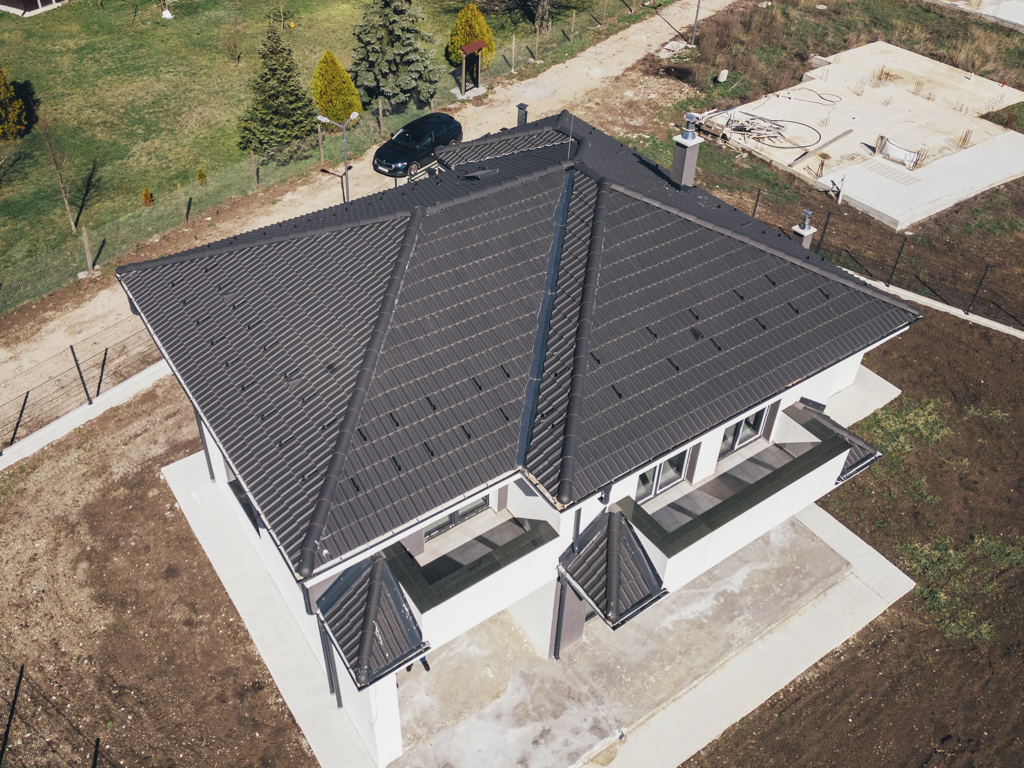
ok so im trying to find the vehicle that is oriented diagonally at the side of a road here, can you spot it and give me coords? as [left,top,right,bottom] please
[371,108,466,179]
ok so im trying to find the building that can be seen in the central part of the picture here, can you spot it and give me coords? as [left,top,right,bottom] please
[112,84,924,766]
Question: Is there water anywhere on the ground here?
No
